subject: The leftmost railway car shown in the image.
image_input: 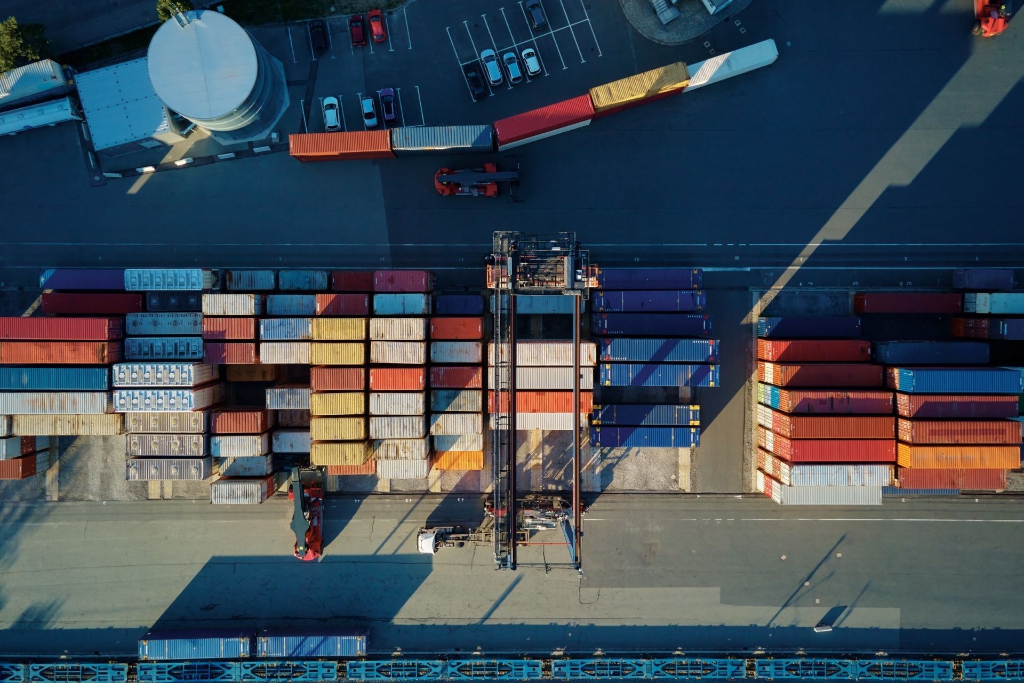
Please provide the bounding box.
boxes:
[0,661,29,682]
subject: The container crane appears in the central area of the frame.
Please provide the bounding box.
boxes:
[485,228,598,585]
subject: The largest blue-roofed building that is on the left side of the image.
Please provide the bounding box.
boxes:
[76,56,183,157]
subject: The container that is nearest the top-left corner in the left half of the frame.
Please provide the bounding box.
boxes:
[0,58,64,102]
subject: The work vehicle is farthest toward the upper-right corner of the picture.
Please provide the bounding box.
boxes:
[971,0,1013,38]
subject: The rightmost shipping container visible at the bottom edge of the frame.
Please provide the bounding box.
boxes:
[258,629,369,657]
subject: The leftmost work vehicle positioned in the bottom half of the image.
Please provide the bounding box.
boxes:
[279,474,327,562]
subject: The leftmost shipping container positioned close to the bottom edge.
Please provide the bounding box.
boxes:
[140,631,255,658]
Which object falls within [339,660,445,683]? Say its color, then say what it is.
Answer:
blue rail car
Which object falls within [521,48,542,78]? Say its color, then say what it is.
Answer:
blue car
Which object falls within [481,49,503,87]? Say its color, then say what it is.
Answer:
blue car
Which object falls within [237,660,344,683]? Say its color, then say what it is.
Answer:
blue rail car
